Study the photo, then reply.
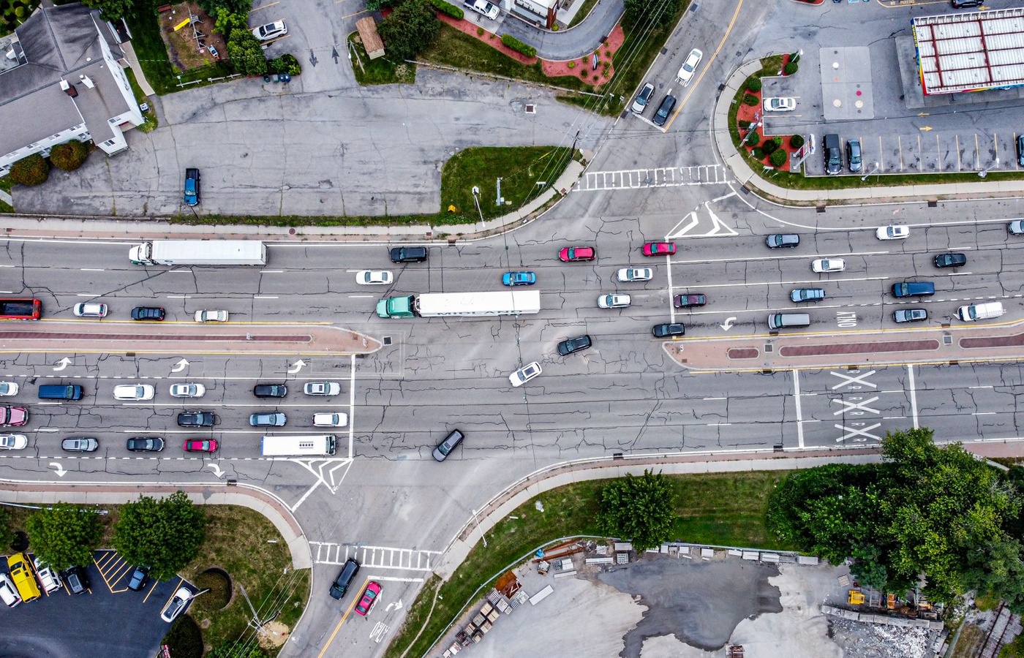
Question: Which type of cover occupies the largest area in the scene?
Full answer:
What you mostly see from above here is paved ground.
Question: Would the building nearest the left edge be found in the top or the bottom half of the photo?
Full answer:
The building nearest the left edge is in the top half of the image.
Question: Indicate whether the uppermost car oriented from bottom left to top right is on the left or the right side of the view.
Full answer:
The uppermost car oriented from bottom left to top right is on the right side of the image.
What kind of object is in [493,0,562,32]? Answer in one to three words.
building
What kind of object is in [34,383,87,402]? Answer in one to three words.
vehicle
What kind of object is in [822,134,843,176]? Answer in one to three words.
truck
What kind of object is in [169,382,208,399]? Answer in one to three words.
car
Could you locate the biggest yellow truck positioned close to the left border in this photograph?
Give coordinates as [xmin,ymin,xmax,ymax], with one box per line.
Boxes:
[8,552,44,605]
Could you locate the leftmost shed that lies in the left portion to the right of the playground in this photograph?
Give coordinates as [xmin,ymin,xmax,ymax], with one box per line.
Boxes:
[356,16,385,60]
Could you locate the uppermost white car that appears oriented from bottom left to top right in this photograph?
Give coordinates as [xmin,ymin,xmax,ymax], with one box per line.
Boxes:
[674,46,705,86]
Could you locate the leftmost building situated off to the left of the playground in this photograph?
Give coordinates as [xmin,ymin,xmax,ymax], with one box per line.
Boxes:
[0,2,142,174]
